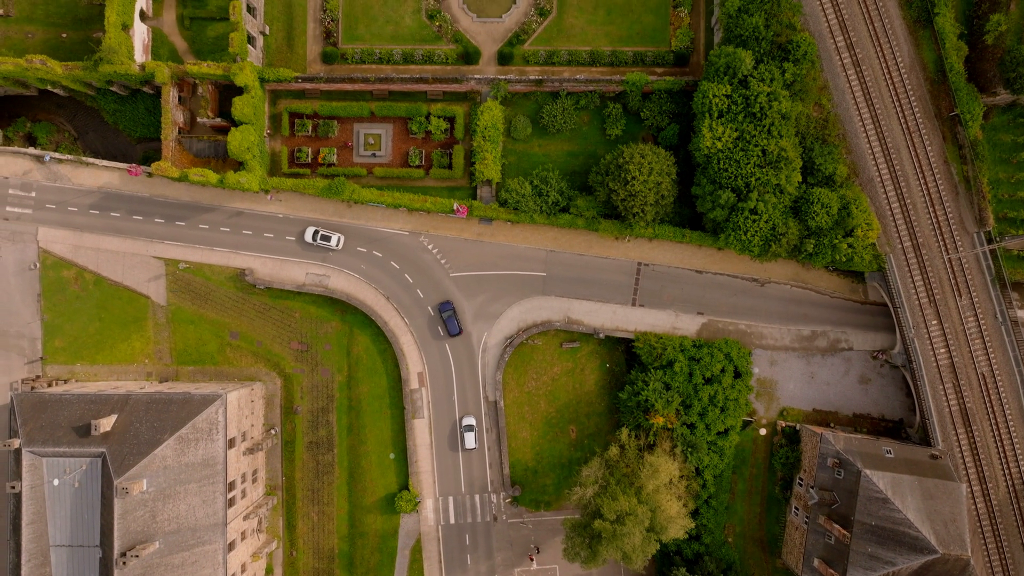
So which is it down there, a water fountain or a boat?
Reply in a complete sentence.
Looking from above, you can make out a water fountain.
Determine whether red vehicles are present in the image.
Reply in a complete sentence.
No, the picture doesn't show any red vehicle.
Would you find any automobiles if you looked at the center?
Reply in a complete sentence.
Yes, an automobile shows up at the center.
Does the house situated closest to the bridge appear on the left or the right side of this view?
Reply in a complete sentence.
The house situated closest to the bridge is on the right side of the image.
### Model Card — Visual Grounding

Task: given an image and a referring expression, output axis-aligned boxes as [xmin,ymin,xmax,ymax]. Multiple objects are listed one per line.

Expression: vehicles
[459,413,478,451]
[439,299,463,338]
[305,227,346,250]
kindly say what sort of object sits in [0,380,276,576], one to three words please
building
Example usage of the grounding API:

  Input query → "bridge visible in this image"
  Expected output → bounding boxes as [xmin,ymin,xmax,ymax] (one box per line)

[866,220,1024,461]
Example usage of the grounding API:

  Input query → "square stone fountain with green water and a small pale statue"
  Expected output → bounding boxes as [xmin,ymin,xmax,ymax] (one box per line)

[354,123,393,163]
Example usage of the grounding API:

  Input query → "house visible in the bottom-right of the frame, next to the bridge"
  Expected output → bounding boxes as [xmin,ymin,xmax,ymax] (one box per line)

[781,425,976,576]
